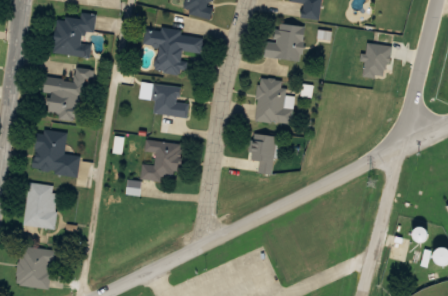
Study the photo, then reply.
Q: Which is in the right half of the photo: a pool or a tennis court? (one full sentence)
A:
What appears in the right half of the photo is a pool.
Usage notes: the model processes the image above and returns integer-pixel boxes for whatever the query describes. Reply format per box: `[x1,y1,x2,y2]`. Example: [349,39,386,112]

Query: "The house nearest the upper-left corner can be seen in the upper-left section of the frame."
[52,15,96,58]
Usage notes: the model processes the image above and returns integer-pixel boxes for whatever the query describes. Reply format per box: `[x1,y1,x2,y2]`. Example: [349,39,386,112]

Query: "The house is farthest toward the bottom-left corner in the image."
[16,246,52,290]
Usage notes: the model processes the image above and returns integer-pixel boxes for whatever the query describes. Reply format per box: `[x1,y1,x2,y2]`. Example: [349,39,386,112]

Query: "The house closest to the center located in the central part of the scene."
[250,134,275,175]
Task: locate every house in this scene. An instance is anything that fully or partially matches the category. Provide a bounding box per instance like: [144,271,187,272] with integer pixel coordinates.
[34,128,81,177]
[16,246,52,290]
[256,78,292,124]
[292,0,322,20]
[142,25,202,74]
[140,140,182,183]
[362,42,393,80]
[25,184,57,230]
[264,24,306,62]
[250,134,275,175]
[181,0,211,21]
[52,15,96,58]
[44,68,96,123]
